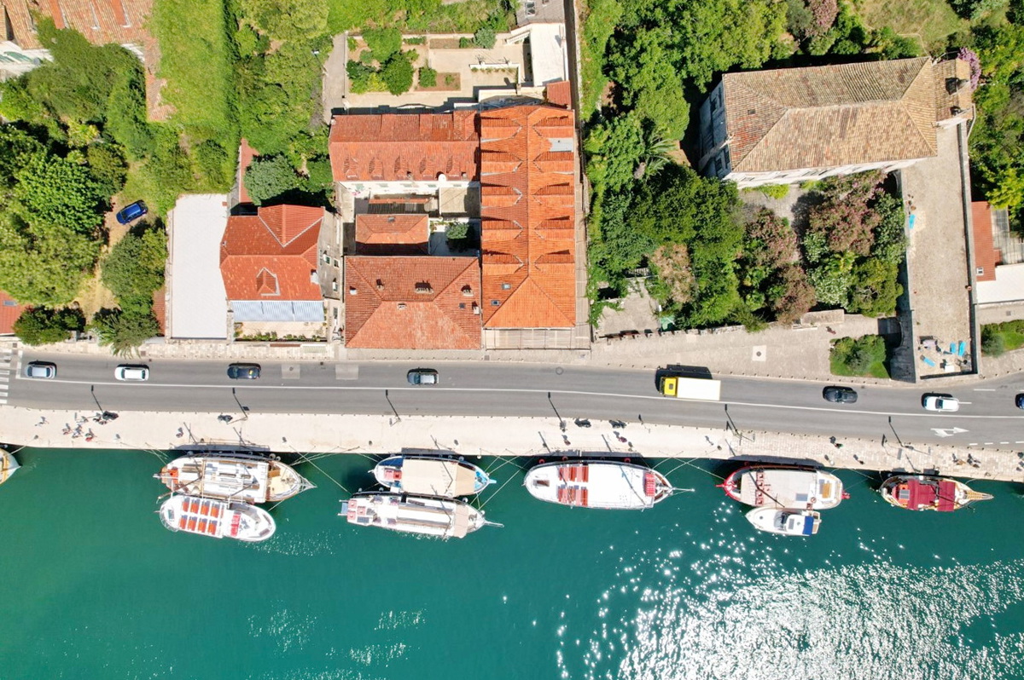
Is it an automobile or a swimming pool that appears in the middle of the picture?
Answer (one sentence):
The one visible in the middle of the picture is an automobile.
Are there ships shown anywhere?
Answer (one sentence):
Yes, there is a ship in the image.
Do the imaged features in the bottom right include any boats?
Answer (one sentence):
Yes, you'll find a boat in the bottom right.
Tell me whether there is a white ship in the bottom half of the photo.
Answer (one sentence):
Yes, looking in the bottom half of the photo, one can make out a white ship.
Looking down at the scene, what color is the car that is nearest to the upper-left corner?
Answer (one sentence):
From above, the car that is nearest to the upper-left corner appears blue.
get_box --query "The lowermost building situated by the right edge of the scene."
[978,265,1024,305]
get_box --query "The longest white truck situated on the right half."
[660,377,724,400]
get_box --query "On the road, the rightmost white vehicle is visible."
[920,395,958,412]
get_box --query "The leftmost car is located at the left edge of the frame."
[27,362,58,378]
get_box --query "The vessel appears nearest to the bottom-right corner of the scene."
[874,472,994,514]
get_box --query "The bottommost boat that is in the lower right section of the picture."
[743,507,822,535]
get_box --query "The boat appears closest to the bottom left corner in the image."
[0,443,32,482]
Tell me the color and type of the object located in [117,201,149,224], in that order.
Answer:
blue car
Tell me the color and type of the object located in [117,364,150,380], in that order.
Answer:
white car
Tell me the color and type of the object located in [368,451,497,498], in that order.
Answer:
white boat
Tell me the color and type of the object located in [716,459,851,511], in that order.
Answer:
white boat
